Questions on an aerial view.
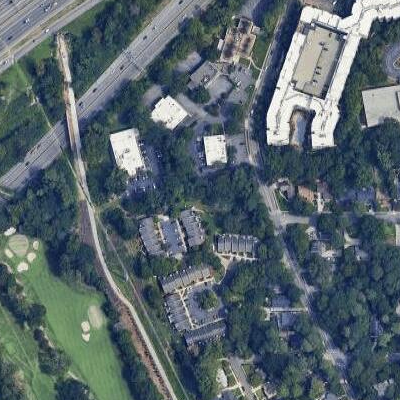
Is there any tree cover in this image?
Yes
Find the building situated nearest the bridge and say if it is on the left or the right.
left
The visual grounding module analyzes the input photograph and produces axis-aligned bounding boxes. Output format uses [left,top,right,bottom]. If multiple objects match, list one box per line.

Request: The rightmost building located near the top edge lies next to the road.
[265,0,400,147]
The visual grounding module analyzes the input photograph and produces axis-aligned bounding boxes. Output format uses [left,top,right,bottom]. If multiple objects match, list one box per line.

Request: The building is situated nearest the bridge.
[110,128,144,176]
